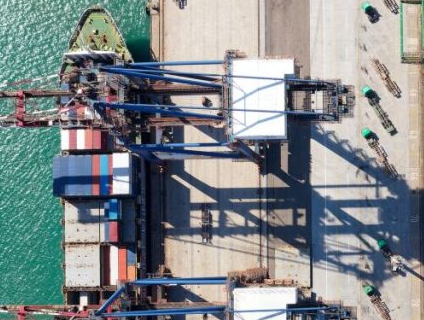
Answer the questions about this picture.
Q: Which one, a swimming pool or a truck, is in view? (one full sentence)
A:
I can see a truck in this picture.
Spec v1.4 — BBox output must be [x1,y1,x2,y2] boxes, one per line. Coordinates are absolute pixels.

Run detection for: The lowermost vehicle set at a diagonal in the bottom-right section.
[363,284,393,320]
